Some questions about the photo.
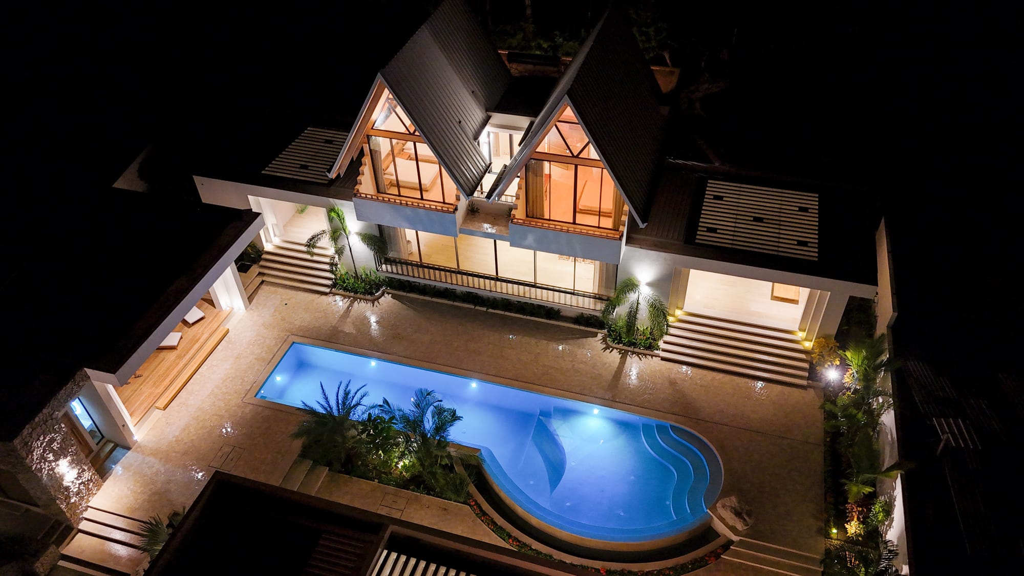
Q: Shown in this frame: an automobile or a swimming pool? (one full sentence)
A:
Looking from above, you can make out a swimming pool.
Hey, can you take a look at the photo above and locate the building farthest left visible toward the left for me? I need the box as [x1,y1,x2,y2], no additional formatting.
[0,176,265,539]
